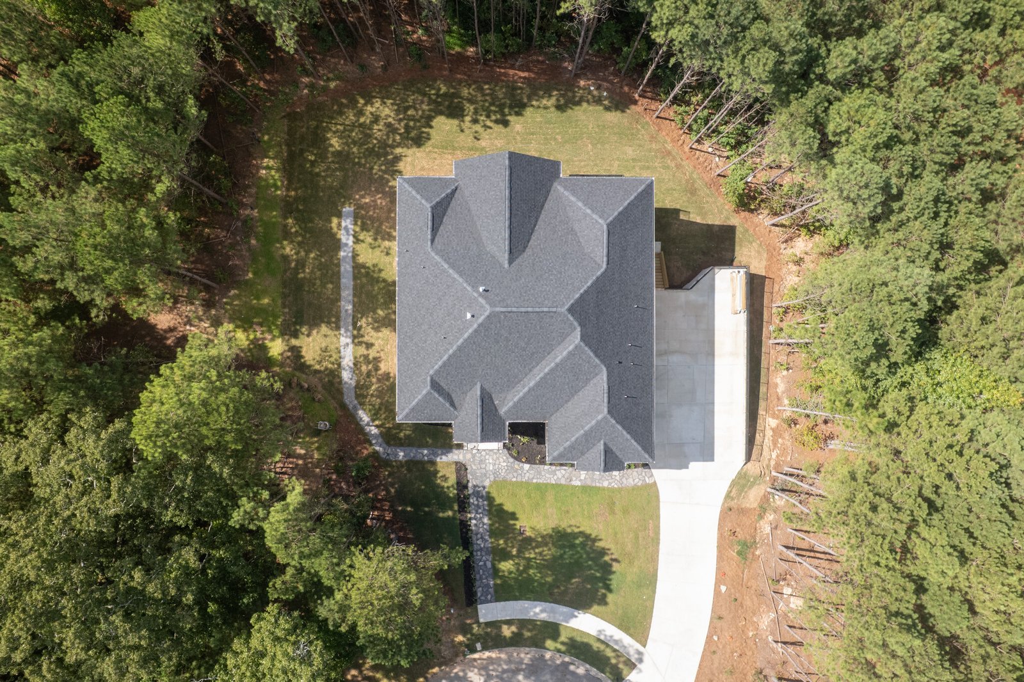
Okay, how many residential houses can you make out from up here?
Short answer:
1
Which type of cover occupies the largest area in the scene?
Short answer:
trees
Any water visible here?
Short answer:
No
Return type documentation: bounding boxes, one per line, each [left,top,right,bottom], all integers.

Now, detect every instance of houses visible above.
[395,149,656,474]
